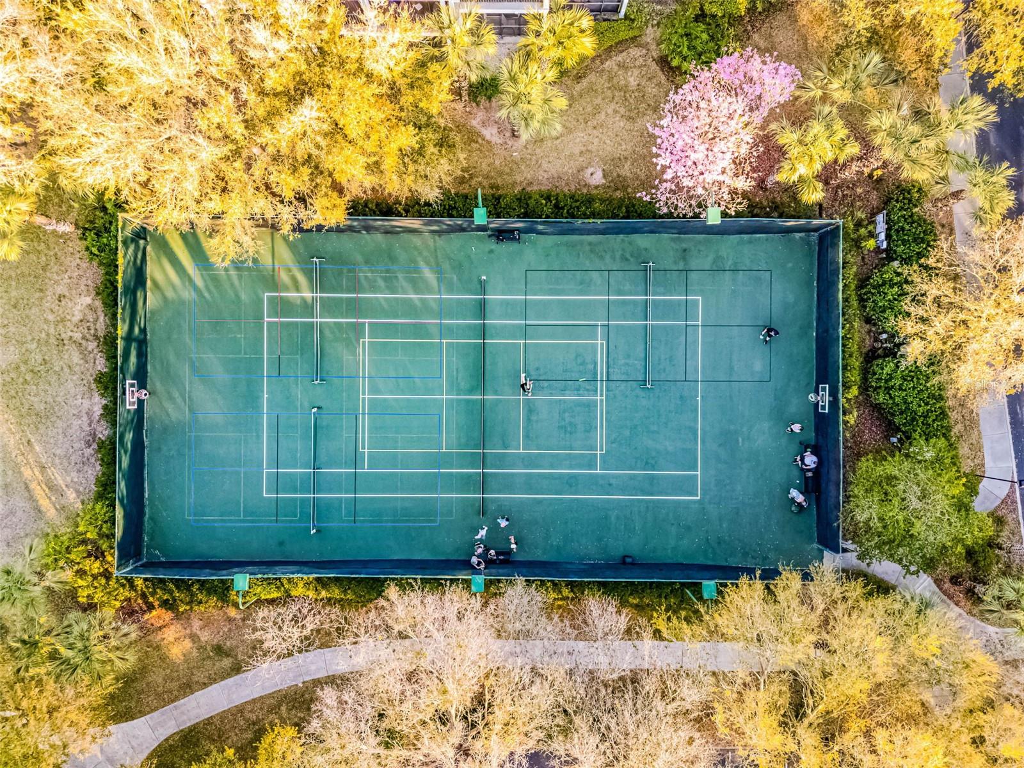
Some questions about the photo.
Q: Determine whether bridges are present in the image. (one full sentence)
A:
No, there is no bridge in the image.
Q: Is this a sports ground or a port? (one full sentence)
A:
The picture captures a sports ground.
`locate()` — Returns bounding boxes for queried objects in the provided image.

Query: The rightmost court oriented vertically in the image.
[343,274,456,519]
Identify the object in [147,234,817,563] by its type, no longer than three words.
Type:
tennis court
